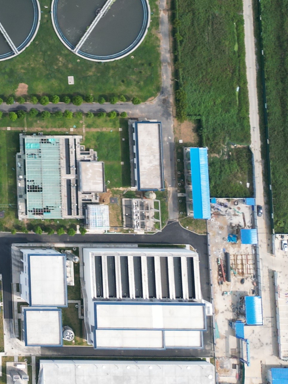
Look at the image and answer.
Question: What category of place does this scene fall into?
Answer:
industrial area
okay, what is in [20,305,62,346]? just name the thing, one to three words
building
